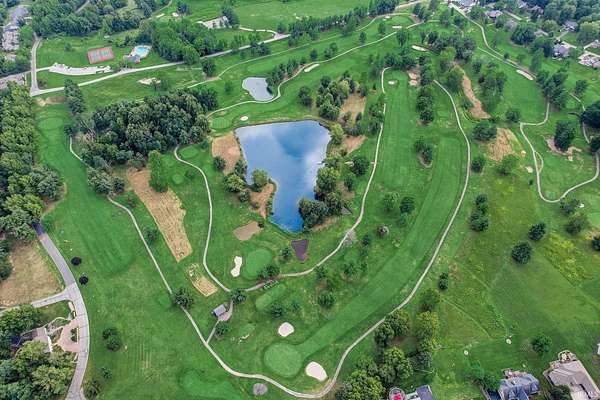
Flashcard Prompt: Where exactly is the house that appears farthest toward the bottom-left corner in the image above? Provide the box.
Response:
[11,326,39,350]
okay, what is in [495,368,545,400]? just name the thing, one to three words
house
